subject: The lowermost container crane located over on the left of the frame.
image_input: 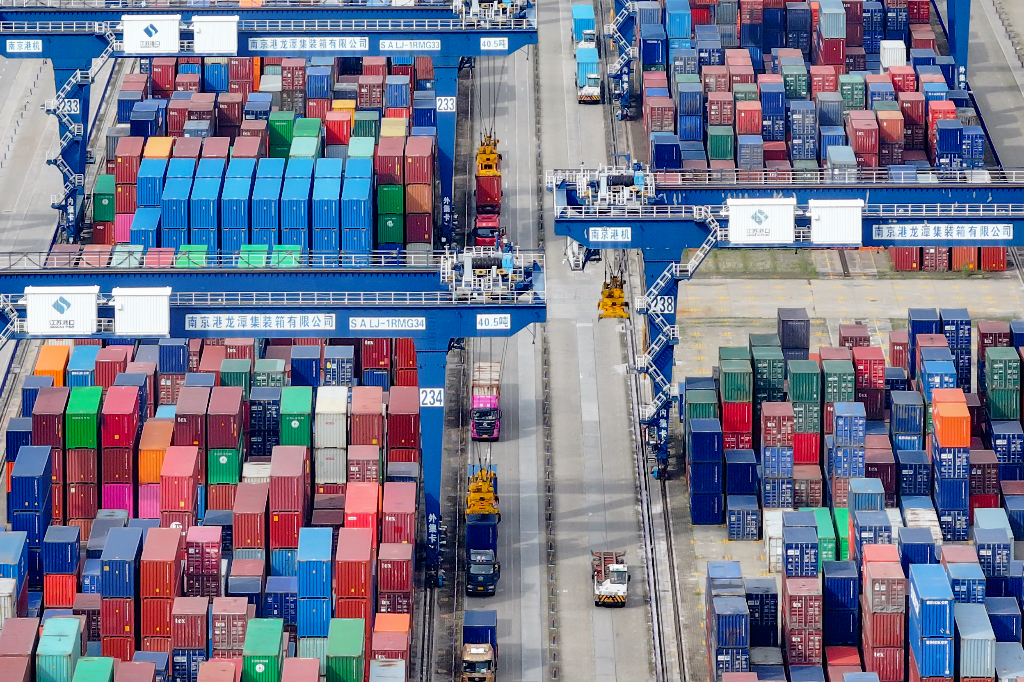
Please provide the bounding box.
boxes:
[0,229,548,589]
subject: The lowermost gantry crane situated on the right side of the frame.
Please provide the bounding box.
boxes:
[554,146,1024,482]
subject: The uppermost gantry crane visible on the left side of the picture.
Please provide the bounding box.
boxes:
[0,0,543,253]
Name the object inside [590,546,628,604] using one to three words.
work vehicle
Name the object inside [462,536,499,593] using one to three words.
truck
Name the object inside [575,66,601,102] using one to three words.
work vehicle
